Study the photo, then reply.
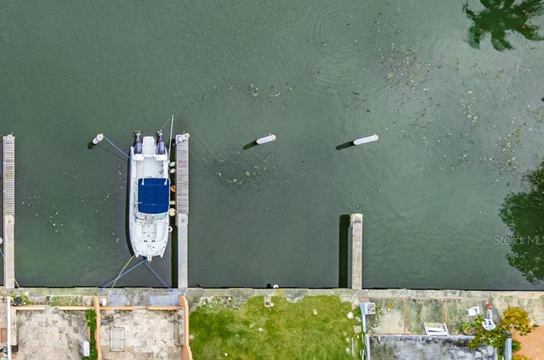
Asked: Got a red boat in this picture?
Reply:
No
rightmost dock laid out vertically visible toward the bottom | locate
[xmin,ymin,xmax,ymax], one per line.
[350,214,362,290]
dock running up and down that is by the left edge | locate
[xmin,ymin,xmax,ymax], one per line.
[2,136,15,290]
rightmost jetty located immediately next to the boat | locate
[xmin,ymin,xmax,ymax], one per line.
[171,134,190,290]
